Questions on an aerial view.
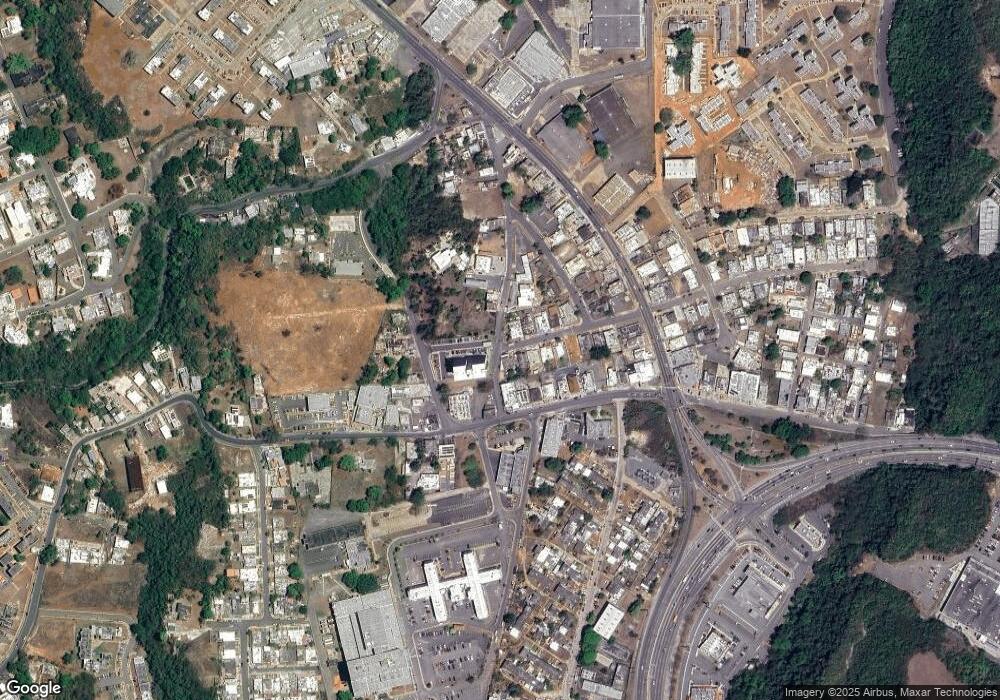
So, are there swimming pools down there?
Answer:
No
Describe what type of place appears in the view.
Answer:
residential area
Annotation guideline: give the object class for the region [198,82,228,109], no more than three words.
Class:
building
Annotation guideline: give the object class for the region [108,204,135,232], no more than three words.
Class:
house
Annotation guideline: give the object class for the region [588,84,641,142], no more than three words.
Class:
building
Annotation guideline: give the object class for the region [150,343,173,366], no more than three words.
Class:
house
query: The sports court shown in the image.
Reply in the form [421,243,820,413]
[329,216,355,231]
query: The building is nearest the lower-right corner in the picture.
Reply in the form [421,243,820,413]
[934,562,1000,639]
